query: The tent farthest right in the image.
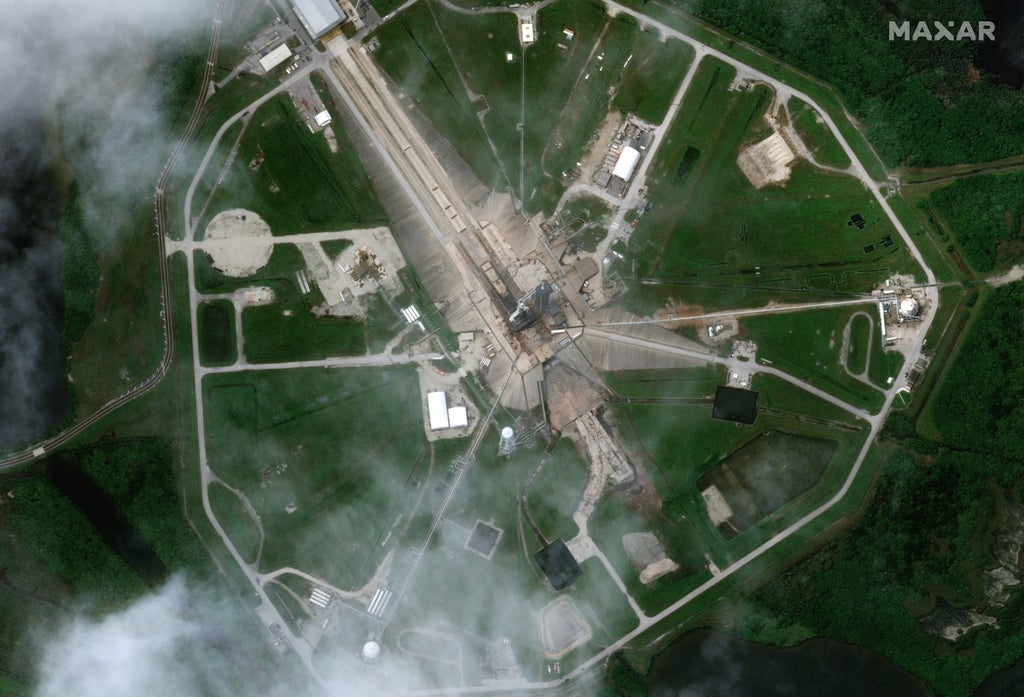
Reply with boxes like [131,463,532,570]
[613,147,640,181]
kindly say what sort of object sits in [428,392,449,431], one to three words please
tent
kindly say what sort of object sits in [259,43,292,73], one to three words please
building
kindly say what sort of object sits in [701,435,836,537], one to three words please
pond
